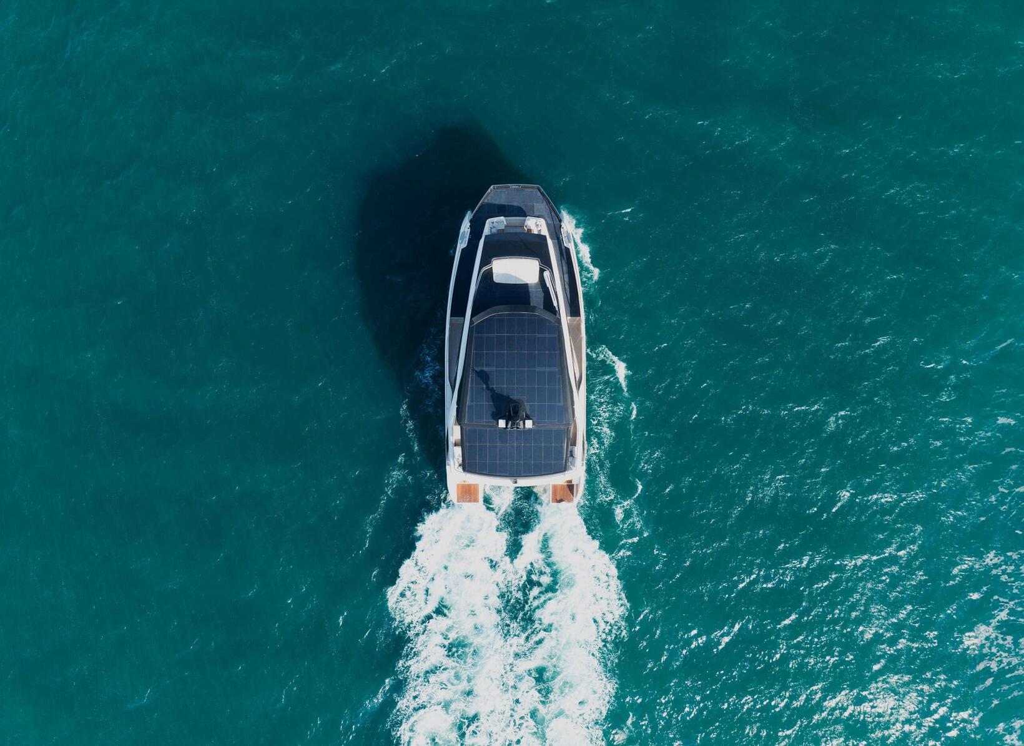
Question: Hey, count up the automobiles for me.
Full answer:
The picture shows no automobiles.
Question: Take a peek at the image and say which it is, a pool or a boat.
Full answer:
Visible in the photo is a boat.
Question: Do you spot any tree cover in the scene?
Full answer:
No, the picture contains no tree cover.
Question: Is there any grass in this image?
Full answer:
No, grass can't be seen anywhere here.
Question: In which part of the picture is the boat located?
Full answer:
Look in the center portion of the view to spot the boat.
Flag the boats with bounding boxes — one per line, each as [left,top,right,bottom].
[446,183,586,503]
